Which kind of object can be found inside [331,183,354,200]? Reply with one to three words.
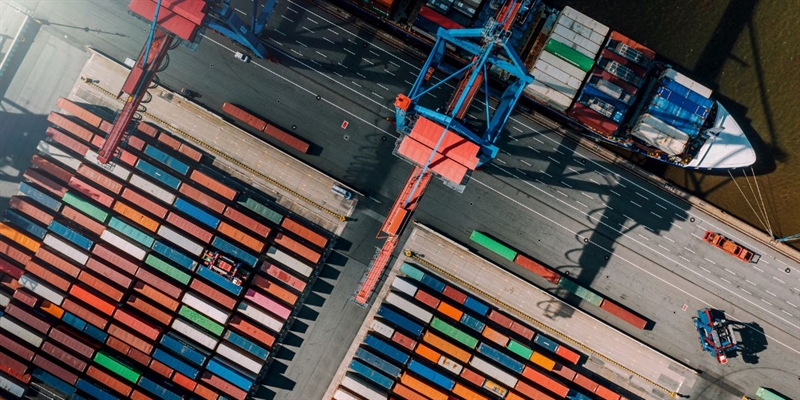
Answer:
vehicle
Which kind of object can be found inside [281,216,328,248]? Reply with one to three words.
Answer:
shipping container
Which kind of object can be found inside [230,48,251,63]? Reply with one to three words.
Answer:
vehicle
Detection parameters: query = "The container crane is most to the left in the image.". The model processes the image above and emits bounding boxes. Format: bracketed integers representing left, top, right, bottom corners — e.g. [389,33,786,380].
[88,0,313,175]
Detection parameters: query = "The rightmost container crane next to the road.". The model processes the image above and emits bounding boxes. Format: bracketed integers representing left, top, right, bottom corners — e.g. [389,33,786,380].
[346,0,555,314]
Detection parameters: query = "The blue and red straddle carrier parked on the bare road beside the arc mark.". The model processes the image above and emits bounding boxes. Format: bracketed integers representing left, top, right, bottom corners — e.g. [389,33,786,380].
[690,304,746,363]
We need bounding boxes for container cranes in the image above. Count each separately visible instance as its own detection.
[346,0,555,314]
[88,0,313,175]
